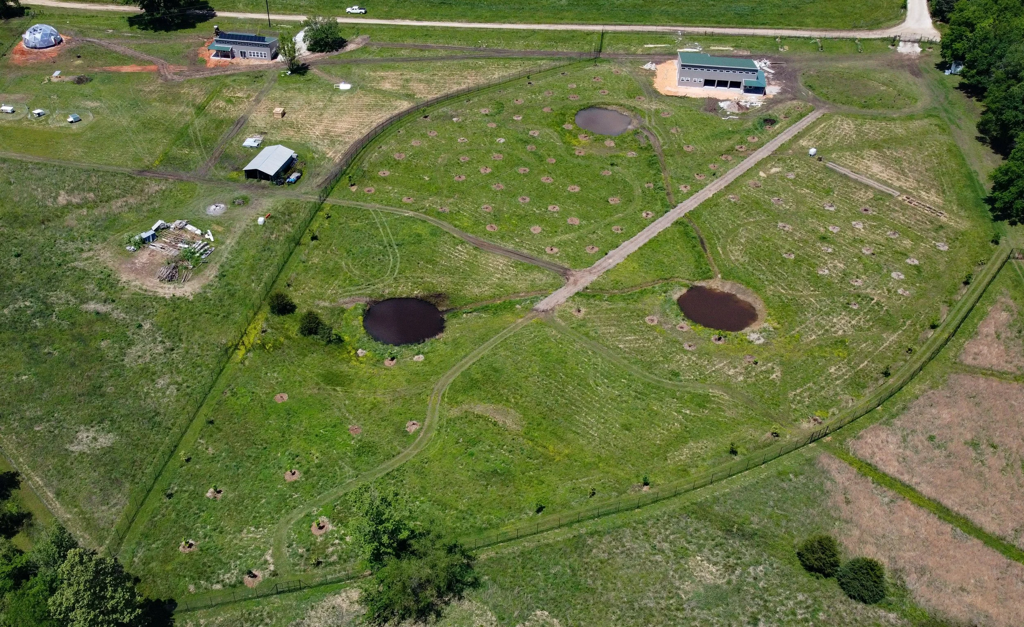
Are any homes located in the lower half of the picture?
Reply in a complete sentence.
No, I see no home in the lower half of the picture.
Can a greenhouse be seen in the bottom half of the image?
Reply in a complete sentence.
No, there's no greenhouse to be seen in the bottom half of the image.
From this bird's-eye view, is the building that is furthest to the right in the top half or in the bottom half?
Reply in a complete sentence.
The top half of the photo is where the building that is furthest to the right is.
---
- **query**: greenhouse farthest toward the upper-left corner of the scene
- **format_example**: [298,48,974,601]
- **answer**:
[21,21,62,49]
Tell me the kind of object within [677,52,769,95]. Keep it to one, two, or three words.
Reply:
building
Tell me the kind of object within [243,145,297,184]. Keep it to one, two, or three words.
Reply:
barn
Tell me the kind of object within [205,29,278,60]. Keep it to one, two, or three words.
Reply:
house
